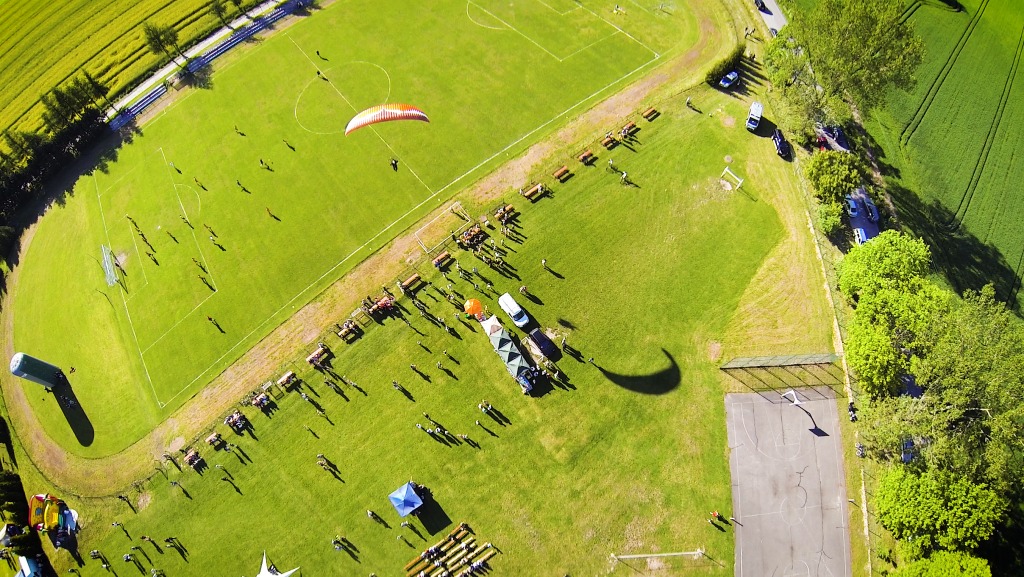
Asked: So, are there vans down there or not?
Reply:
Yes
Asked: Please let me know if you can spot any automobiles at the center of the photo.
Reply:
Yes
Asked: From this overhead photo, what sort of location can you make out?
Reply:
sports ground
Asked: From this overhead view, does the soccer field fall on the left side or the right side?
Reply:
left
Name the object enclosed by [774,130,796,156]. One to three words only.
car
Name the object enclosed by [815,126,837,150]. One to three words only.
car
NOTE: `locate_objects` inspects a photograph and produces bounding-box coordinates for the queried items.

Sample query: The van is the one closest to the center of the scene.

[498,290,531,329]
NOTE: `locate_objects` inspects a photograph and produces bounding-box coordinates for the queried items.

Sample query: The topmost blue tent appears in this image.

[388,482,425,515]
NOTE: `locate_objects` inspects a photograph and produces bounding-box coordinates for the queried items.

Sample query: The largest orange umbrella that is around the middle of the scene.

[465,300,481,315]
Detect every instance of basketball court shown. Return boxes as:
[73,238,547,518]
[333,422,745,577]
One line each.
[725,387,852,577]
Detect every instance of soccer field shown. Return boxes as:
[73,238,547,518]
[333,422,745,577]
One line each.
[14,0,696,458]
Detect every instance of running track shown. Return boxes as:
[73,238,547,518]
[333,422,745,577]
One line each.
[0,0,736,496]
